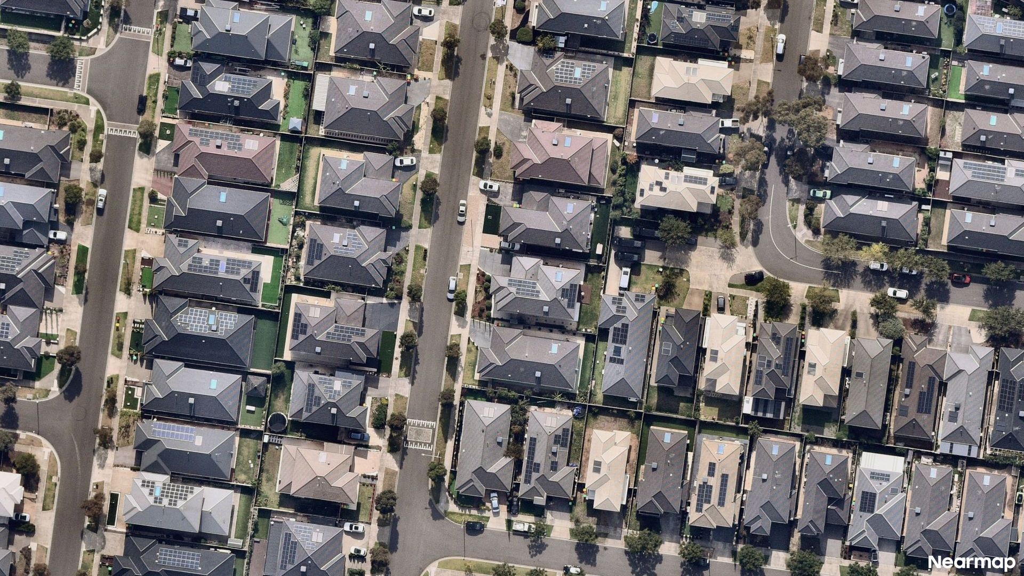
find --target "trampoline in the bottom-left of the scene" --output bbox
[268,412,287,431]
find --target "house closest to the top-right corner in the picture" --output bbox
[965,13,1024,54]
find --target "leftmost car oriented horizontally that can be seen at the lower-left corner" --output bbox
[11,511,33,523]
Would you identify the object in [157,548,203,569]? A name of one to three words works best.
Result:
solar array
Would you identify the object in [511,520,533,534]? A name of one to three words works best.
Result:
vehicle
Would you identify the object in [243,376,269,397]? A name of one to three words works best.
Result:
gazebo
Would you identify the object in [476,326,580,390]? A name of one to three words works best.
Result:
house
